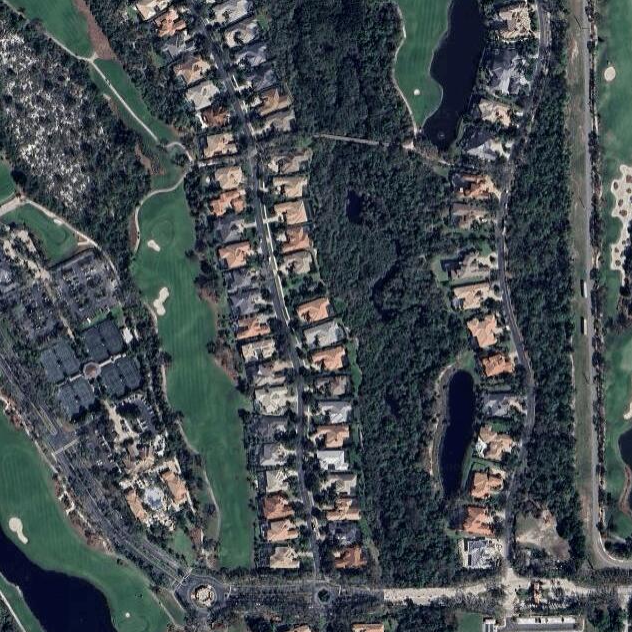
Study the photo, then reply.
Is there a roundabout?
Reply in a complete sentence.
Yes, a roundabout appears in the view.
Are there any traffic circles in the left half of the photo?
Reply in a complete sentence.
Yes, I can see a traffic circle in the left half of the photo.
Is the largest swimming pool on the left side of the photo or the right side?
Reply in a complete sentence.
You can find the largest swimming pool on the left side of the picture.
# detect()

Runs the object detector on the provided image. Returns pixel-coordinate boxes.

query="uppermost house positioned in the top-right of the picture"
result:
[491,3,535,38]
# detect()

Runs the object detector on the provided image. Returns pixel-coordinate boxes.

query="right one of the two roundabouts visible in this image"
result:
[311,580,340,610]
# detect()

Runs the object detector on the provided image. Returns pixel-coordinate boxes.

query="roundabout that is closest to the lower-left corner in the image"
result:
[176,571,232,620]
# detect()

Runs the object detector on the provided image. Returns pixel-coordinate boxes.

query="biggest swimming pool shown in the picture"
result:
[145,487,165,508]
